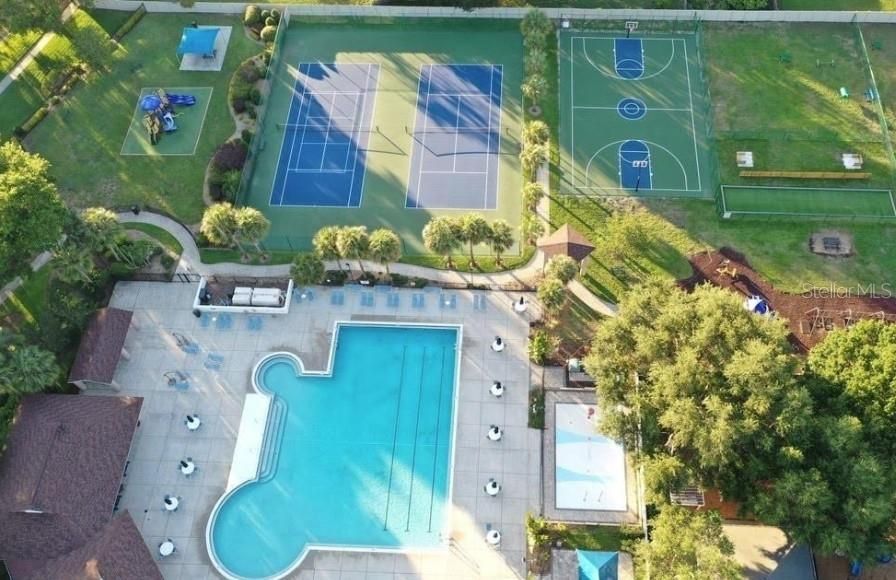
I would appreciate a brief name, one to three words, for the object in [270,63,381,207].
tennis court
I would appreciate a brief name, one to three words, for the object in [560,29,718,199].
basketball court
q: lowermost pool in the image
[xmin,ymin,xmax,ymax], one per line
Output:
[206,318,464,580]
